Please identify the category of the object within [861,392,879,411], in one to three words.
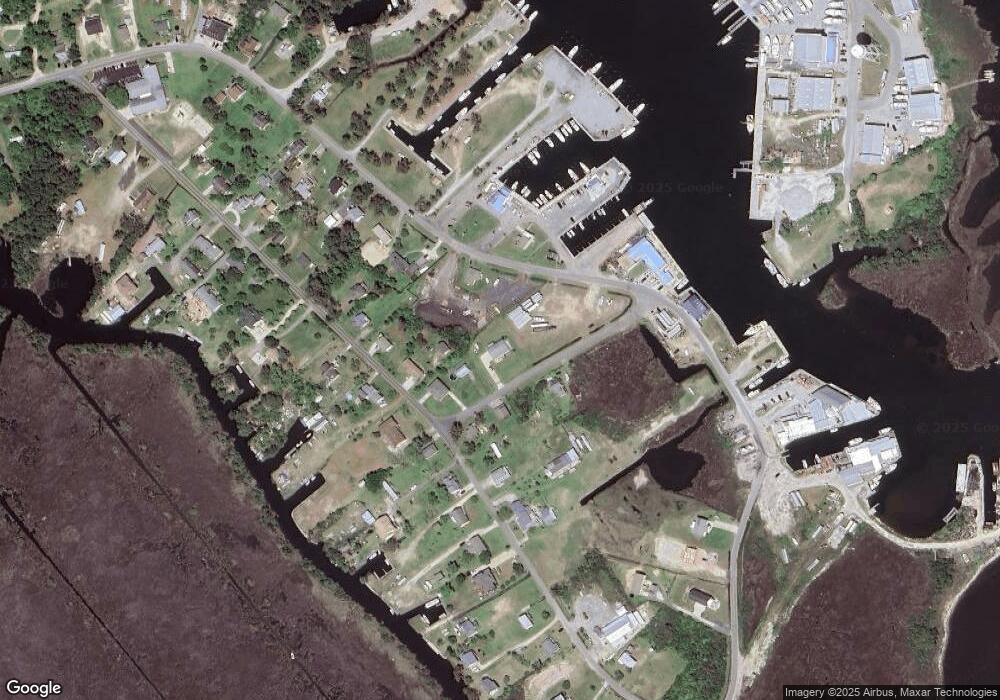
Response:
boat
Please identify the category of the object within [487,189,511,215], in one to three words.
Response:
building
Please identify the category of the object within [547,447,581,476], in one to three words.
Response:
house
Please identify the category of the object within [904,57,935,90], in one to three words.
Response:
shed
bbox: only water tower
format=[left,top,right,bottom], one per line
[853,42,887,65]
